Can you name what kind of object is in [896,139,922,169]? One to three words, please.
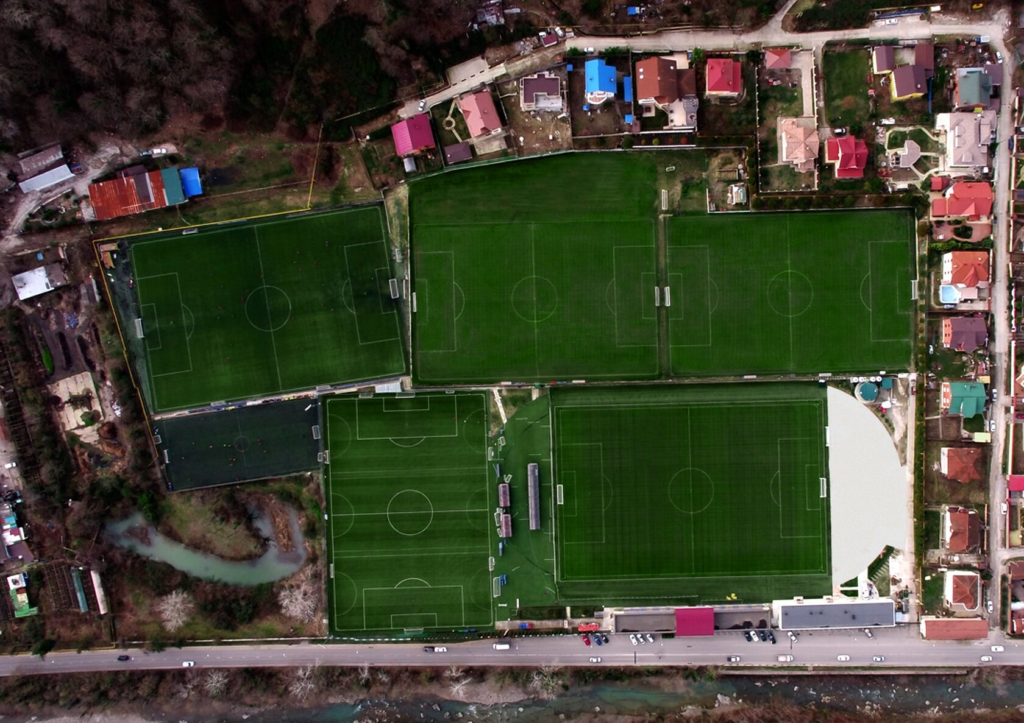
building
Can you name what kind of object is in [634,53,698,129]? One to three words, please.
house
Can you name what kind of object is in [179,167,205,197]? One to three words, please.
shed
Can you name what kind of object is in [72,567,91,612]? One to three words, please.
greenhouse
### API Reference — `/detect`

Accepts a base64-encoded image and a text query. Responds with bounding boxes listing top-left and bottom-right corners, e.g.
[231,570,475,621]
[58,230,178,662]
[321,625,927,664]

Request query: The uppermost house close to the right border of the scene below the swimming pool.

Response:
[941,318,987,351]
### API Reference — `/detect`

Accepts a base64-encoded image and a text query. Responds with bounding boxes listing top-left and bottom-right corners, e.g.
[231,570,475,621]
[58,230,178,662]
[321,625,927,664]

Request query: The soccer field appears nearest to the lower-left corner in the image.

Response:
[156,397,323,491]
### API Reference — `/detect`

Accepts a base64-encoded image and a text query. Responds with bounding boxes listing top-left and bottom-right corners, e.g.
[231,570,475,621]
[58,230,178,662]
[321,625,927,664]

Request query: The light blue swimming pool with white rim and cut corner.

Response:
[939,284,960,304]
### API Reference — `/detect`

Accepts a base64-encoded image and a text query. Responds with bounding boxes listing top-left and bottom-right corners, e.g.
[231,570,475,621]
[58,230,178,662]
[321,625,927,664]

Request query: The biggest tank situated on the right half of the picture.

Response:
[856,381,881,404]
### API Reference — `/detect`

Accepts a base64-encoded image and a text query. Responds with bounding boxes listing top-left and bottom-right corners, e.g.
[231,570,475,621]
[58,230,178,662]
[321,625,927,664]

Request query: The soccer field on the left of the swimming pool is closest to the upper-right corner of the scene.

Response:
[667,209,916,379]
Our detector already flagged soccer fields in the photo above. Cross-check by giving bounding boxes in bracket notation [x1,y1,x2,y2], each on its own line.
[322,390,496,637]
[409,150,660,386]
[126,201,407,415]
[551,379,832,607]
[667,209,916,379]
[156,397,323,491]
